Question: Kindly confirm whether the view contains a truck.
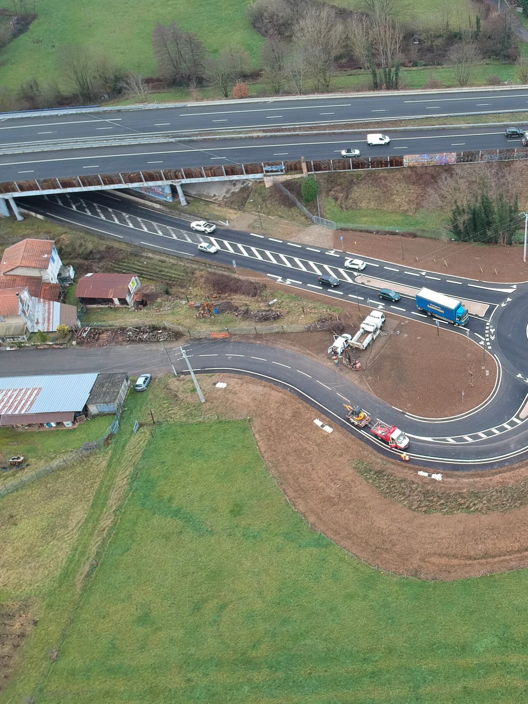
Yes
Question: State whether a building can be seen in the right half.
No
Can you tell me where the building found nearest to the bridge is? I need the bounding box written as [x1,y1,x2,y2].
[7,235,66,287]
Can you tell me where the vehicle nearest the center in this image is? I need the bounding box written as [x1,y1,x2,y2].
[326,334,351,355]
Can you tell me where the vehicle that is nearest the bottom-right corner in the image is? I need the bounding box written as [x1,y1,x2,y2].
[371,418,411,450]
